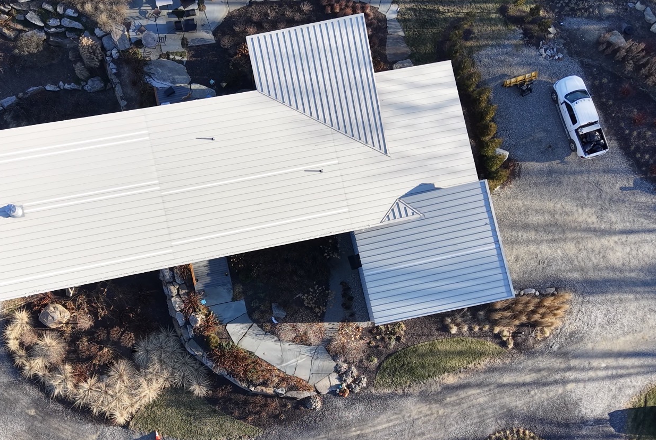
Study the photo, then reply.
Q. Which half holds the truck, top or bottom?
top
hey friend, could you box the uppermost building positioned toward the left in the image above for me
[0,12,477,302]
